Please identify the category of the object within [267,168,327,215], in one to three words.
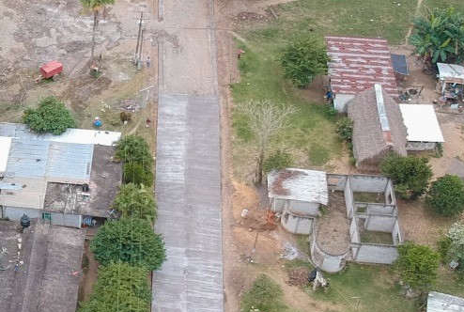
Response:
shed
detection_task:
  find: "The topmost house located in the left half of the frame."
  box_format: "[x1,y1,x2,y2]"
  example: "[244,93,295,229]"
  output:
[0,123,123,226]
